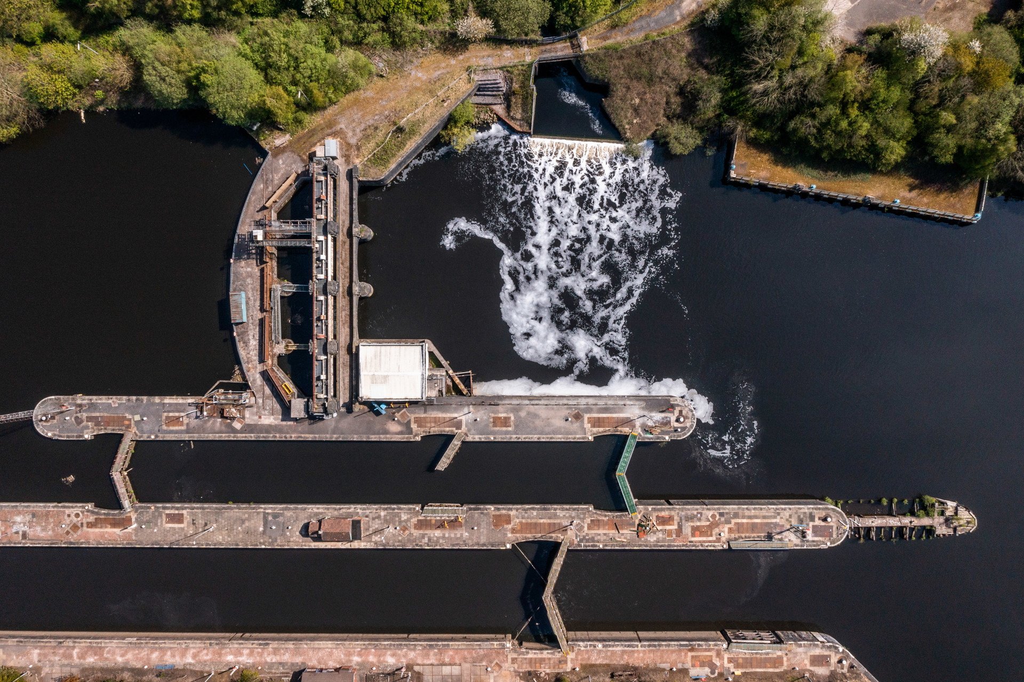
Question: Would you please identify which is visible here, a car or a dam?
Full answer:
There is a dam in the scene.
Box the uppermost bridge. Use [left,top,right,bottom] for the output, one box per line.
[525,35,588,63]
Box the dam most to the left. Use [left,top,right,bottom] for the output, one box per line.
[310,160,378,421]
